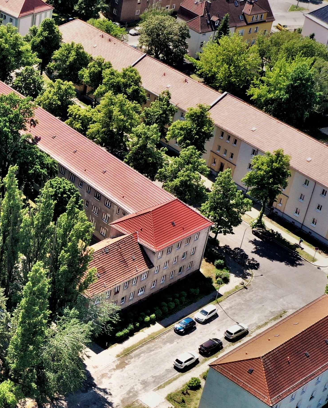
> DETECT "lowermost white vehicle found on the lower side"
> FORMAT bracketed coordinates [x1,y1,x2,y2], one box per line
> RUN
[172,352,202,371]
